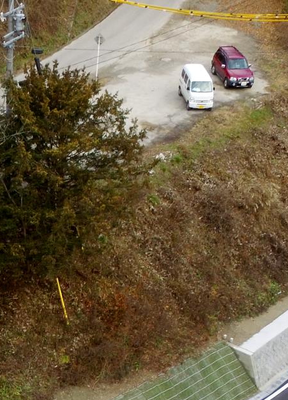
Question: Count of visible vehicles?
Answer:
2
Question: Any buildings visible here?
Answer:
No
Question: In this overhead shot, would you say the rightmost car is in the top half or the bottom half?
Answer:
top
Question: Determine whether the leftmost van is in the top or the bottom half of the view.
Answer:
top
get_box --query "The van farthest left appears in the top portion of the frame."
[183,55,220,101]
